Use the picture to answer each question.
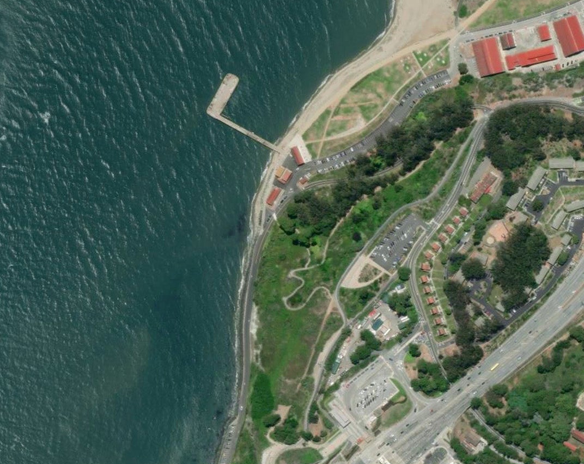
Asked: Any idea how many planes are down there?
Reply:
0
